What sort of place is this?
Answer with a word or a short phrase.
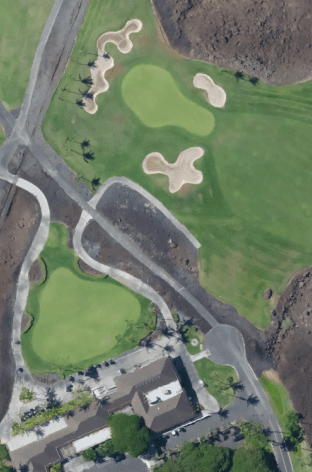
golf course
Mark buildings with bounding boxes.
[63,456,95,472]
[7,358,198,472]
